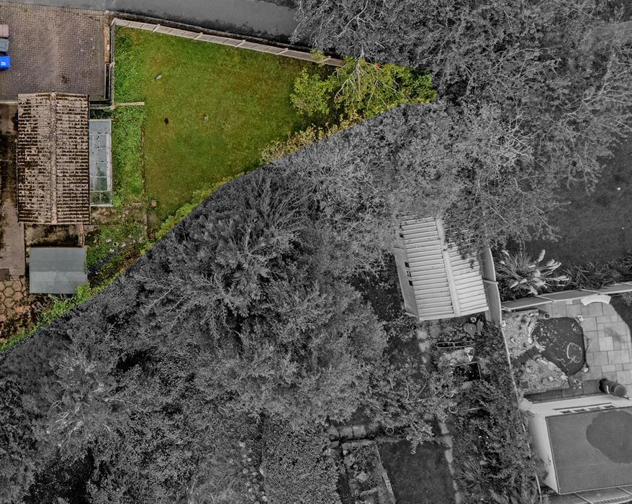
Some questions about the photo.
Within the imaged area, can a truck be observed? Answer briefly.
No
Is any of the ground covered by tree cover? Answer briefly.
Yes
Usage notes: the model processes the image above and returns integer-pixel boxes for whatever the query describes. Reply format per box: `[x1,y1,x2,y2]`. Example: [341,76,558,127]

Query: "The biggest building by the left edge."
[15,92,92,225]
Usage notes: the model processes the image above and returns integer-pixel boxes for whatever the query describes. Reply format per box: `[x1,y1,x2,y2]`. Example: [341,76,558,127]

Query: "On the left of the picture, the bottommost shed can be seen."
[28,246,88,294]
